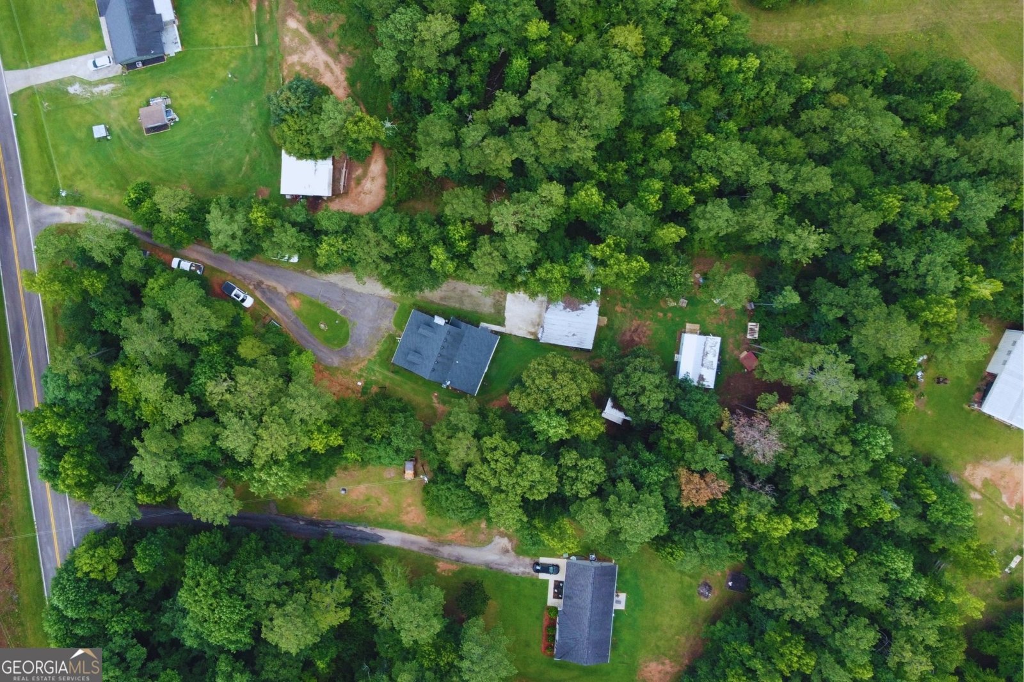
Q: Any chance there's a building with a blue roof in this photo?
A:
Yes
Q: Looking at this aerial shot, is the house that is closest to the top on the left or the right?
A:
left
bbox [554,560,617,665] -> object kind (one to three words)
house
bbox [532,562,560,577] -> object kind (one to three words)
car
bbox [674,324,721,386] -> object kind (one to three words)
house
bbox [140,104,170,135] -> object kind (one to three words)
shed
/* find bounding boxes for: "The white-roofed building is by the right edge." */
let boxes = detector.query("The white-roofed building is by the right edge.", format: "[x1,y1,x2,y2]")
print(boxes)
[973,330,1024,430]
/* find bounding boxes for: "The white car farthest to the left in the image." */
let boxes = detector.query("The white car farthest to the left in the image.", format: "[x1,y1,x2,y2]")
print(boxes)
[85,53,113,70]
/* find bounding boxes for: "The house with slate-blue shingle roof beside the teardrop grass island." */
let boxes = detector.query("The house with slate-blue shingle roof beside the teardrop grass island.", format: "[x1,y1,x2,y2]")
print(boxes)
[392,309,500,396]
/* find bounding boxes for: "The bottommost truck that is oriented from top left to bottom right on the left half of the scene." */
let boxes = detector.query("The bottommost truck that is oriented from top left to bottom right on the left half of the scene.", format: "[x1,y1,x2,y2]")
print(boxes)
[220,280,253,308]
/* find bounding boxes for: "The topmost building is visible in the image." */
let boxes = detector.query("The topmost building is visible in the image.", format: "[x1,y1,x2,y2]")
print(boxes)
[95,0,174,73]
